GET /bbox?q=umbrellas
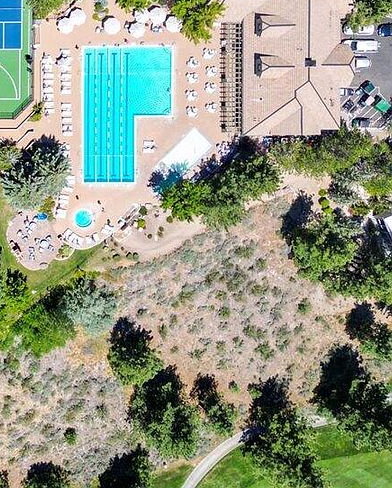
[94,0,107,8]
[68,8,85,26]
[149,7,166,24]
[128,22,144,38]
[102,18,120,36]
[163,18,178,34]
[132,7,149,24]
[55,18,73,35]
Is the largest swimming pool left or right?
left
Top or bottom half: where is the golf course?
bottom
